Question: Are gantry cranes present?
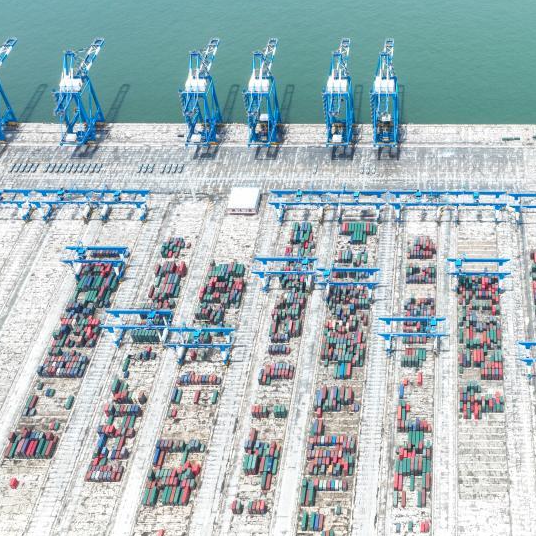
Yes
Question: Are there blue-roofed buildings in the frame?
No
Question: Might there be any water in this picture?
Yes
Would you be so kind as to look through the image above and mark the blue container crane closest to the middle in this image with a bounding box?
[254,254,322,295]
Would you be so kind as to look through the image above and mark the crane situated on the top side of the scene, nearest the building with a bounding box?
[271,188,333,224]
